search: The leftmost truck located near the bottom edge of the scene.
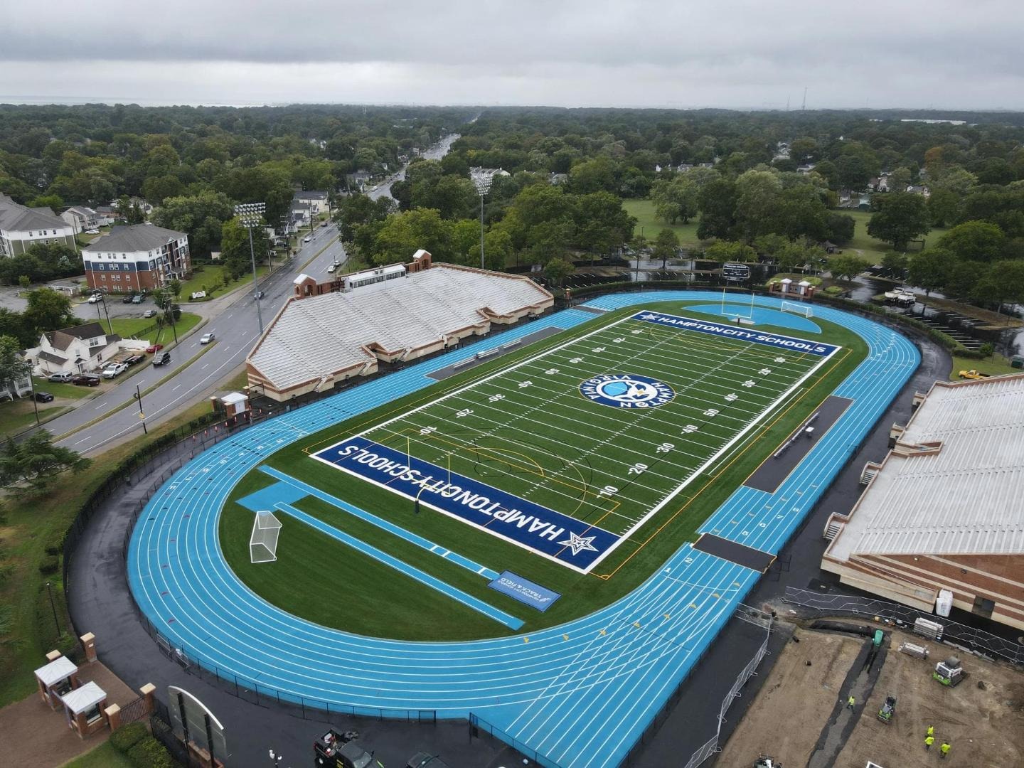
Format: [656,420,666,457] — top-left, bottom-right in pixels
[312,726,380,768]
